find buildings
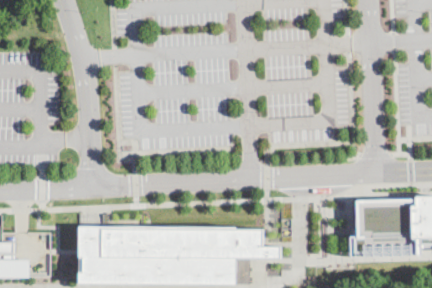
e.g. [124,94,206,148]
[349,196,432,257]
[77,226,282,286]
[0,237,30,280]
